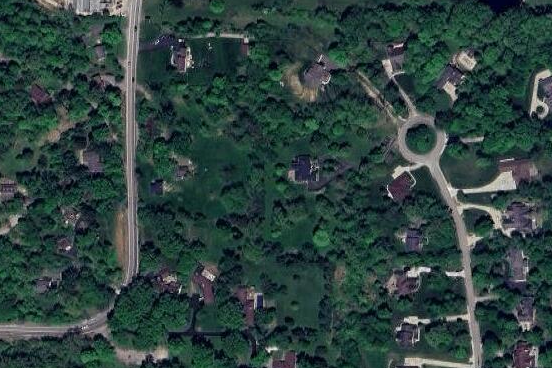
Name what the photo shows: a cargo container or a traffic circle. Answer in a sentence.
The one in the frame is a traffic circle.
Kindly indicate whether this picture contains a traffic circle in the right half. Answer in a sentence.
Yes, a traffic circle shows up in the right half.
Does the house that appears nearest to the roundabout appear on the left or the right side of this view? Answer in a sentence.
The house that appears nearest to the roundabout sits on the right side.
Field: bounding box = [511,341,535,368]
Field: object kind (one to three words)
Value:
house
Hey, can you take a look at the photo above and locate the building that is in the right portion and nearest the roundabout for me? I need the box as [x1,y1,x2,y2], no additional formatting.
[386,172,413,201]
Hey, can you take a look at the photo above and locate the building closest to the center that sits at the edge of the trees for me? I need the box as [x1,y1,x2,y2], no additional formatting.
[293,156,318,182]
